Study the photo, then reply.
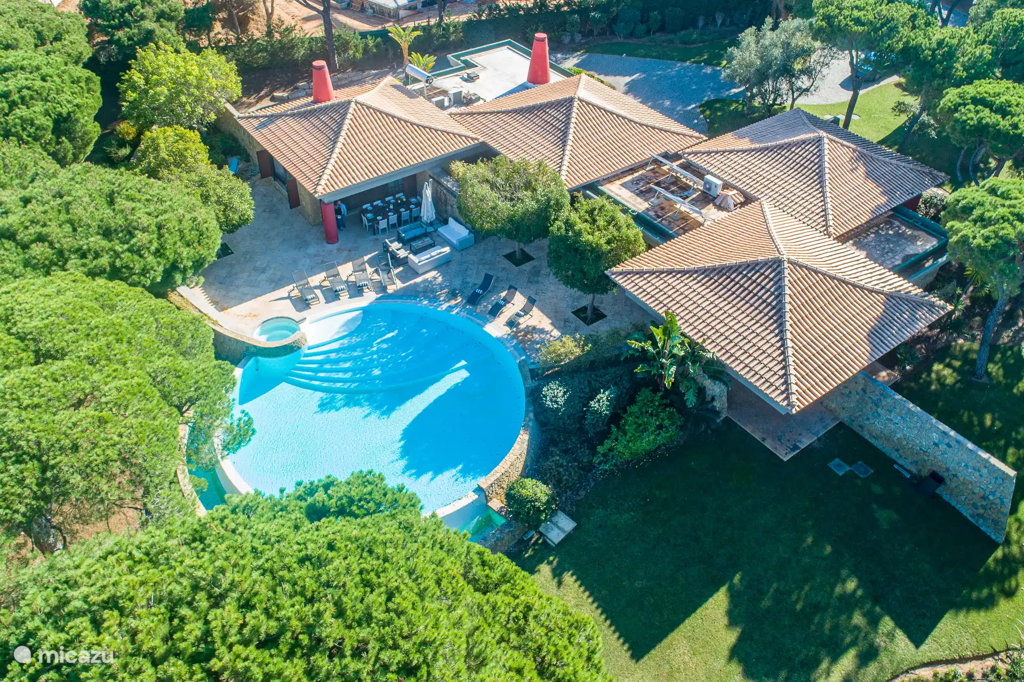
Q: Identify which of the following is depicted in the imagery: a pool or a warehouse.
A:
pool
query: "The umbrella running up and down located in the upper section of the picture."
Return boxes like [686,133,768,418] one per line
[422,179,442,225]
